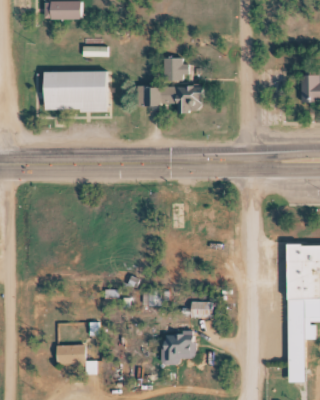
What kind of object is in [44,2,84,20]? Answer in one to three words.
house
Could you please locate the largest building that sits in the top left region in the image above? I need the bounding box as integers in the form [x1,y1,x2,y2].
[42,72,109,112]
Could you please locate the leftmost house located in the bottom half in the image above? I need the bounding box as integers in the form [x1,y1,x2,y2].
[56,344,86,366]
